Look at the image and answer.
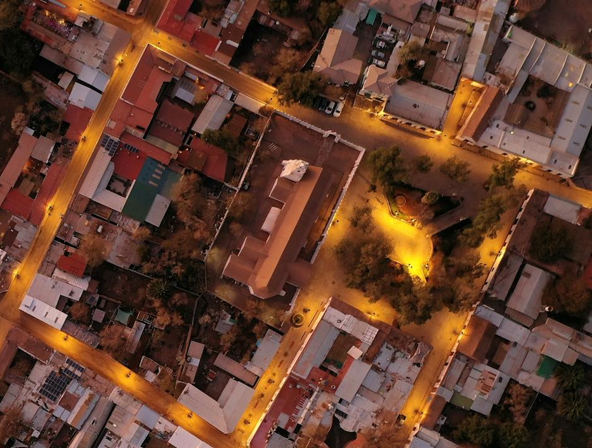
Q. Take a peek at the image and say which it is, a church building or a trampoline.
church building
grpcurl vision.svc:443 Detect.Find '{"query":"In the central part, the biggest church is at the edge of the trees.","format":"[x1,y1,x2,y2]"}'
[218,162,338,300]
